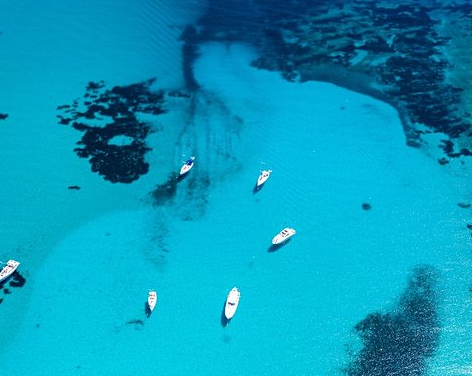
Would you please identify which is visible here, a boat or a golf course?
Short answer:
boat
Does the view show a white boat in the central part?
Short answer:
Yes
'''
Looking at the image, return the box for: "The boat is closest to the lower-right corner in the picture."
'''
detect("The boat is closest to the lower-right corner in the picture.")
[274,229,299,245]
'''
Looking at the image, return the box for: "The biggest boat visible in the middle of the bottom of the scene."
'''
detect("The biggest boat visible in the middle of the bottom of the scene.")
[225,287,241,320]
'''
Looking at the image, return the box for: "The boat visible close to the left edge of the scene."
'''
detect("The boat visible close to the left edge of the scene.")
[0,254,19,283]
